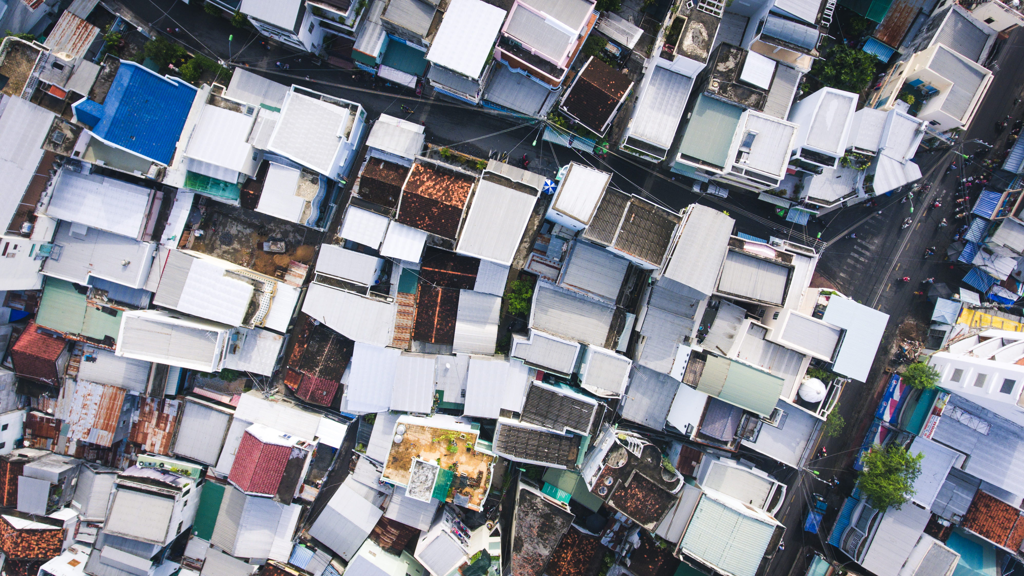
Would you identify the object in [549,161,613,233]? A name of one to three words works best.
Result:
house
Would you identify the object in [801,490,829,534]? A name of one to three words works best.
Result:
truck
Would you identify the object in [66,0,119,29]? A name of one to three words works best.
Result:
house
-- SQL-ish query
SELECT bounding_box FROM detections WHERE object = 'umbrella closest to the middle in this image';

[542,180,557,195]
